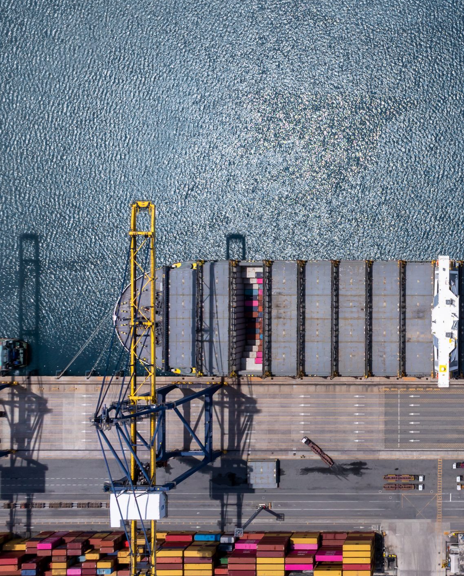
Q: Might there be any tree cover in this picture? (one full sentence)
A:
No, there is no tree cover in the image.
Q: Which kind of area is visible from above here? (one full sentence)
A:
This image shows a port.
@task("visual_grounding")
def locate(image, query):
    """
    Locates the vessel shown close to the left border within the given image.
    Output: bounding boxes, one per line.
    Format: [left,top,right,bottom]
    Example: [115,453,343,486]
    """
[0,337,37,370]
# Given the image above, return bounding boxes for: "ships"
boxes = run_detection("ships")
[0,337,37,370]
[111,256,464,387]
